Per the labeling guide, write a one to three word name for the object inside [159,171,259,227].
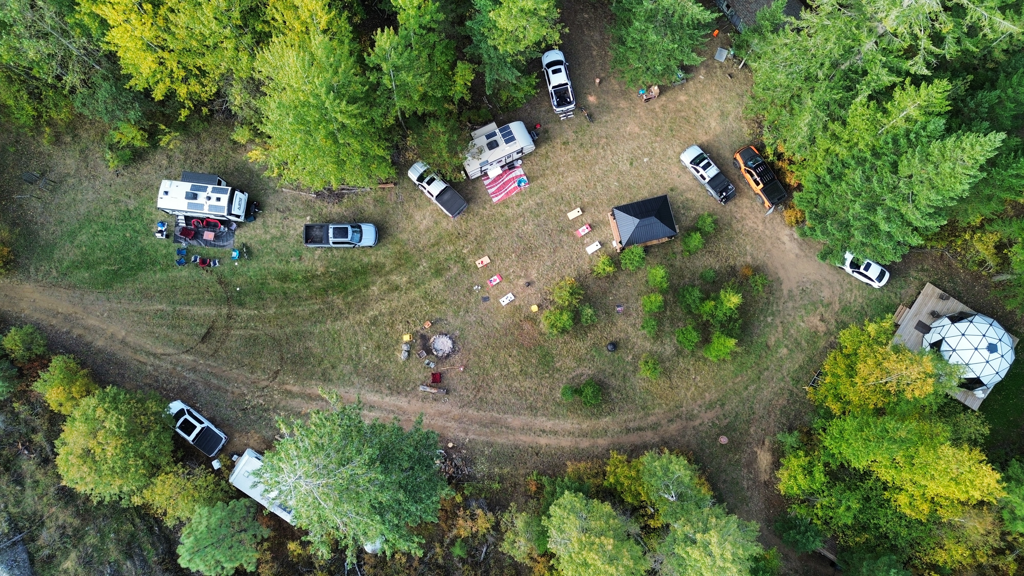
trailer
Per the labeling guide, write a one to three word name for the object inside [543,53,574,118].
truck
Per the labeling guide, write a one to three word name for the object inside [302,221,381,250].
truck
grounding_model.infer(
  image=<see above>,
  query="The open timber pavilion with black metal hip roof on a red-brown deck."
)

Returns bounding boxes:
[606,194,678,254]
